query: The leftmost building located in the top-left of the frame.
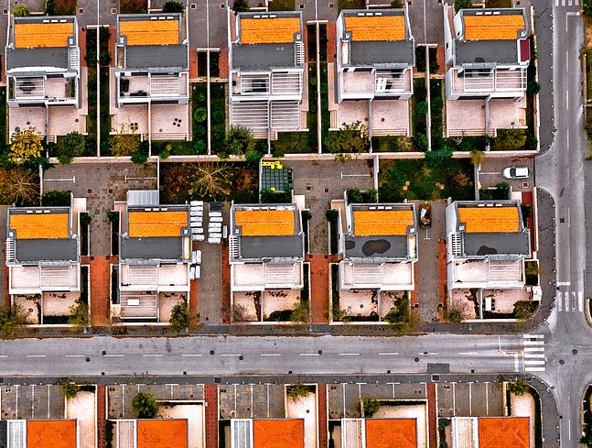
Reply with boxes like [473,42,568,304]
[6,17,85,141]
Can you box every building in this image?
[447,200,524,313]
[108,15,188,141]
[336,417,416,448]
[228,204,301,317]
[329,10,412,136]
[5,419,78,448]
[445,417,529,448]
[114,418,187,448]
[339,203,415,316]
[230,12,307,135]
[6,17,85,141]
[226,418,304,448]
[119,205,191,318]
[448,9,528,135]
[5,207,80,319]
